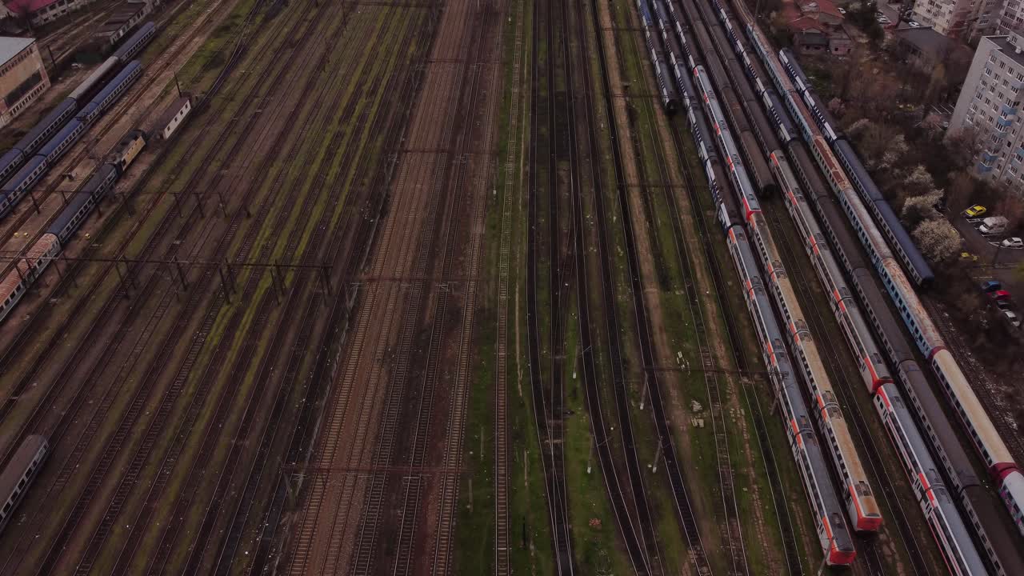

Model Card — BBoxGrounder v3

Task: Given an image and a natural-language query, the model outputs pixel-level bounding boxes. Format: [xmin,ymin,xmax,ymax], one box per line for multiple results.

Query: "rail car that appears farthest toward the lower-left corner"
[0,434,58,549]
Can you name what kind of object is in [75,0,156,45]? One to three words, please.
shed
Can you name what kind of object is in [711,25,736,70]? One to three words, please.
rail car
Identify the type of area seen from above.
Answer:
rail yard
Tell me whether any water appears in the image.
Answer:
No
